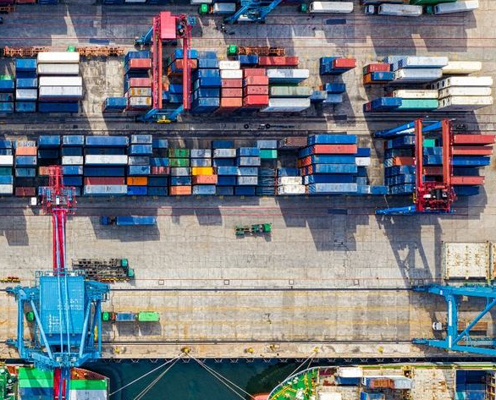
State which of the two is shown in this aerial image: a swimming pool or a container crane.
container crane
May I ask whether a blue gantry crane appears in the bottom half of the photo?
Yes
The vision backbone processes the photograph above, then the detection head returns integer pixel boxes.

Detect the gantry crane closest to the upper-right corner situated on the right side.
[369,114,454,219]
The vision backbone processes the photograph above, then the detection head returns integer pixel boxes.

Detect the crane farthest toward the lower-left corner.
[5,167,110,400]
